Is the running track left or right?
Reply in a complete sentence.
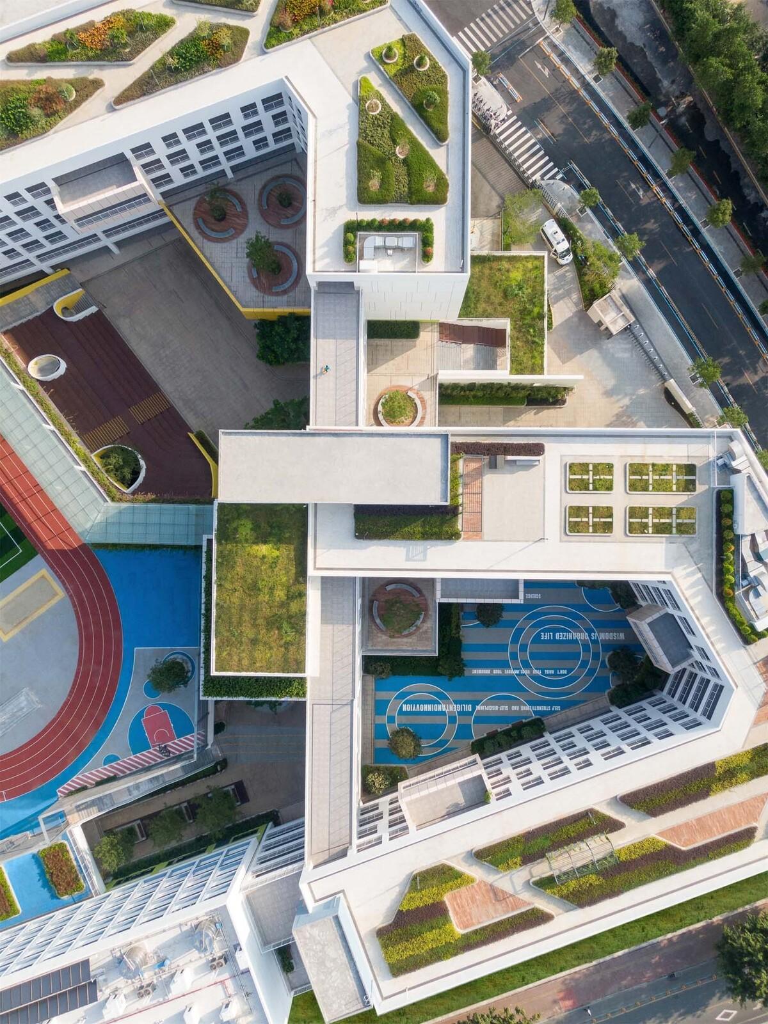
The running track sits on the left side.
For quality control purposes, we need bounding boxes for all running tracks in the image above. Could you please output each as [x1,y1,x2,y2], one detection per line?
[0,433,124,803]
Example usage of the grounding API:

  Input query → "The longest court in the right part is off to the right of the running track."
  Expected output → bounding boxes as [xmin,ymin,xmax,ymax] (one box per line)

[376,580,657,764]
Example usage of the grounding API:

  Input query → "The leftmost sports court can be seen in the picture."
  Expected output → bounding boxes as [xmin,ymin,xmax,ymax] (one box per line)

[82,647,201,774]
